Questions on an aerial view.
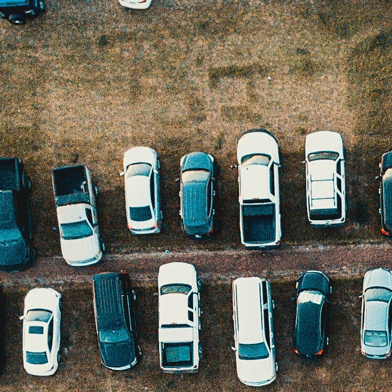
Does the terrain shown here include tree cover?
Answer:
No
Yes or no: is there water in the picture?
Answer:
No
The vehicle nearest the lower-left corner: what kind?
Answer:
automobile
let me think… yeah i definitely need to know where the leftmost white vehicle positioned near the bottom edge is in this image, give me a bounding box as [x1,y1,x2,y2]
[17,288,65,375]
